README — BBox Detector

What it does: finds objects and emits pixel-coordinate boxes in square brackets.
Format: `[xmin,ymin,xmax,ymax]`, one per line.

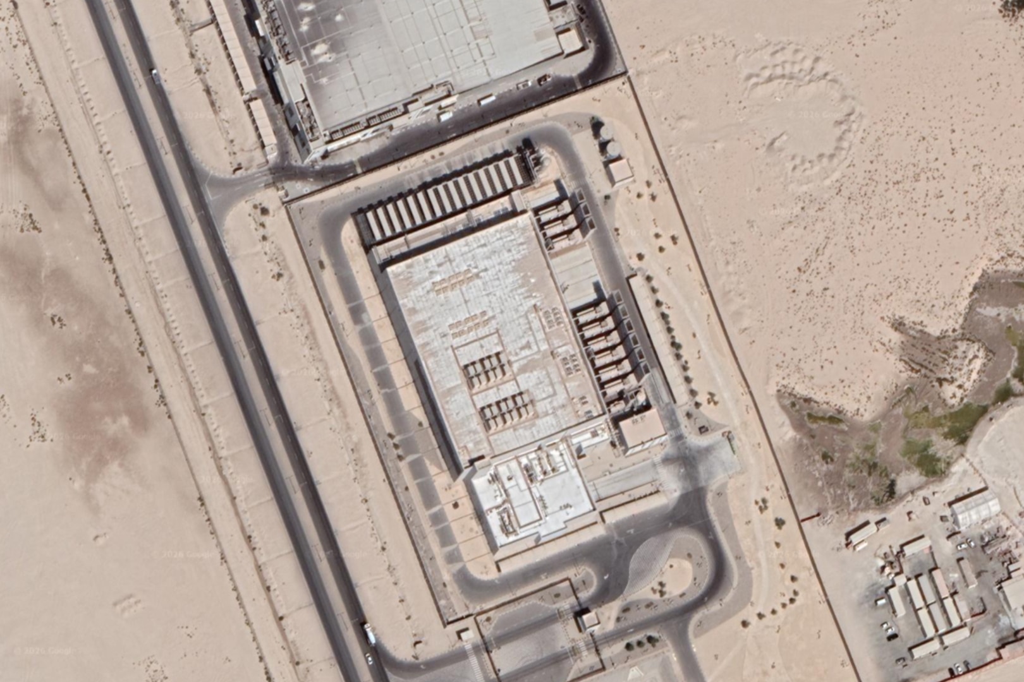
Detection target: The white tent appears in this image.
[950,490,1000,531]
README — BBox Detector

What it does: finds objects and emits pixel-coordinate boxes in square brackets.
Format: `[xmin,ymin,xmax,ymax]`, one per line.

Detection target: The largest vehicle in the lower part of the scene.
[365,624,377,643]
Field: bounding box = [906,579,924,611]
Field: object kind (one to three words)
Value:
building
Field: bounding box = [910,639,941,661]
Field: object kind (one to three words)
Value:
building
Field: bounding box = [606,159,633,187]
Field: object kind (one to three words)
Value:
shed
